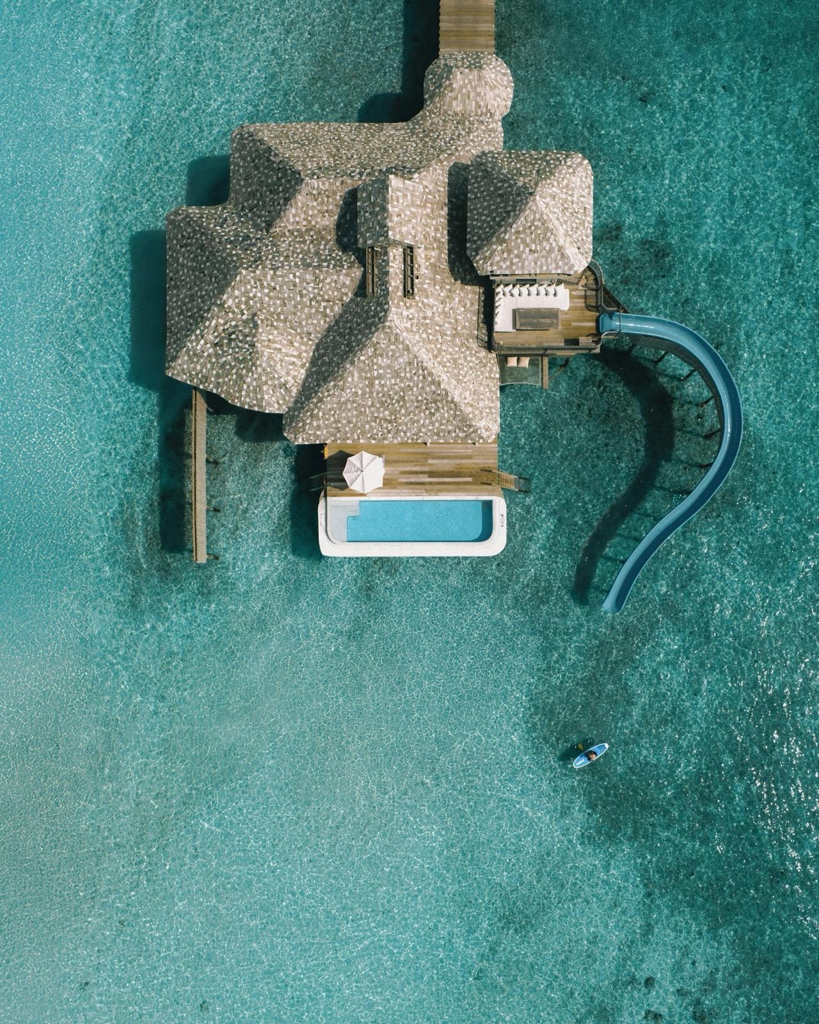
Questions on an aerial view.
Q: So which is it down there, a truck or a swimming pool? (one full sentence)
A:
I can see a swimming pool in this picture.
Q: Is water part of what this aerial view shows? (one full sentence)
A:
Yes, water can be seen from above here.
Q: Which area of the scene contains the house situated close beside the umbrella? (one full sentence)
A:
The house situated close beside the umbrella appears toward the top of the photo.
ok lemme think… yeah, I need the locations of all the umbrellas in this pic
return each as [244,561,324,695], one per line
[343,451,385,494]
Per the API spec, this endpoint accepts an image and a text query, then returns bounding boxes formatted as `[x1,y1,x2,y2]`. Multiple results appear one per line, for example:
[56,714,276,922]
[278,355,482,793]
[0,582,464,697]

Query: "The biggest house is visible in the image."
[166,107,505,451]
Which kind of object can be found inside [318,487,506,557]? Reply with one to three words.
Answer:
swimming pool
